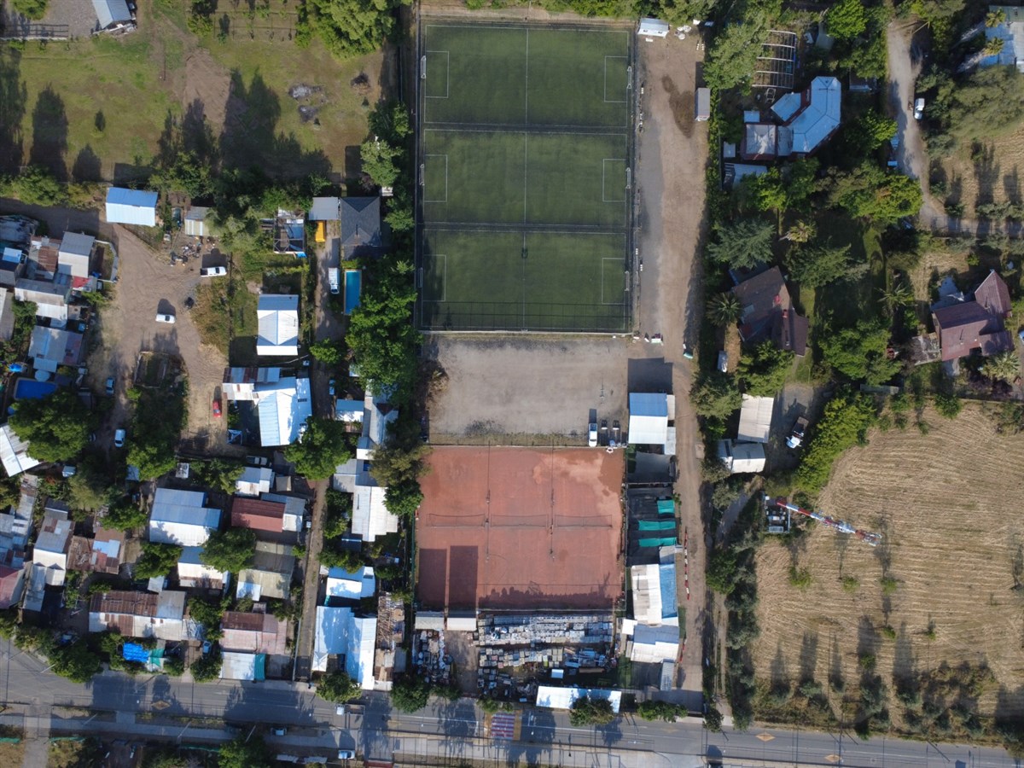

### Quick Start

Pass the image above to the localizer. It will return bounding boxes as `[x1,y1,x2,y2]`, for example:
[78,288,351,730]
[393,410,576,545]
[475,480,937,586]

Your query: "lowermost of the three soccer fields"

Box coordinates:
[416,224,632,331]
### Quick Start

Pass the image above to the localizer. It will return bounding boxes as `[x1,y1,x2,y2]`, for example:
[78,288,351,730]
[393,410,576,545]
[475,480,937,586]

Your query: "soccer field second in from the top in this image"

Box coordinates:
[417,124,633,227]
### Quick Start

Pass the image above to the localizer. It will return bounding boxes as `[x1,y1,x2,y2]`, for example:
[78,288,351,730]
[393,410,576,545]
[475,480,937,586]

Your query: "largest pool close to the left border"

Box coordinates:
[14,378,61,400]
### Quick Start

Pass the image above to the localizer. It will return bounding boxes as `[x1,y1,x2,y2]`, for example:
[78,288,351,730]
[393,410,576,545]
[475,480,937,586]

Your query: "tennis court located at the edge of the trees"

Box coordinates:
[414,446,626,610]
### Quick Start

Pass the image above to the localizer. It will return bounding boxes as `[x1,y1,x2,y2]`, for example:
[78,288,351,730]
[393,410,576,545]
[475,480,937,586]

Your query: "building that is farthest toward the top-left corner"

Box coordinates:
[92,0,137,31]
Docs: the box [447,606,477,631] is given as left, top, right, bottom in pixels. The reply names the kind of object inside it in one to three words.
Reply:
building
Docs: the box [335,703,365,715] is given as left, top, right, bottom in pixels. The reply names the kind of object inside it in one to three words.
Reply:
vehicle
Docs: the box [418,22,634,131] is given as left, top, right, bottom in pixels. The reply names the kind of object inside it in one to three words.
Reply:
soccer field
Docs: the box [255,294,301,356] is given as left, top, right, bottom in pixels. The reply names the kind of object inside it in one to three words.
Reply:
house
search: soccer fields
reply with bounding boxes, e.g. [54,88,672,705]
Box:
[418,22,634,131]
[416,224,632,331]
[417,124,633,227]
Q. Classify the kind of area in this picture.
residential area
